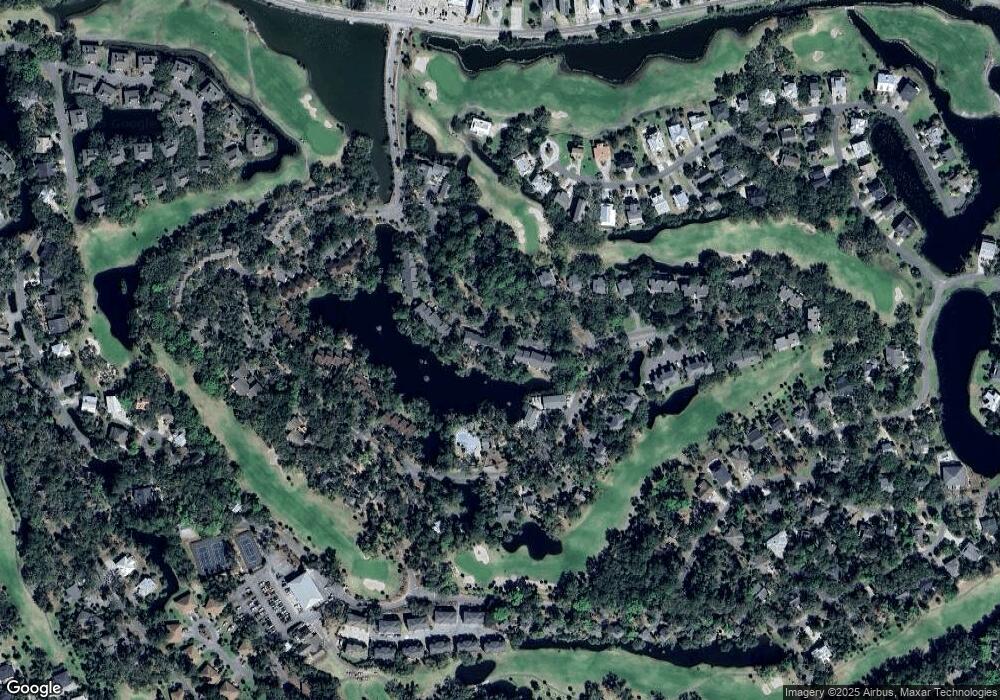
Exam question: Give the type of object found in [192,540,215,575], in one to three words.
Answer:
tennis court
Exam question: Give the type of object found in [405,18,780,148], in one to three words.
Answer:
golf course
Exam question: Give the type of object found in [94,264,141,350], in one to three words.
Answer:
pond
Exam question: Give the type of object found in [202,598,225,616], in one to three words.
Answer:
house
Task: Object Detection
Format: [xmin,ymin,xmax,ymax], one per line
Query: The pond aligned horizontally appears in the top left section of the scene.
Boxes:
[76,108,161,141]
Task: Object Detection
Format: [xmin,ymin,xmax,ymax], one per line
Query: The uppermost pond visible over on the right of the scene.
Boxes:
[427,0,1000,275]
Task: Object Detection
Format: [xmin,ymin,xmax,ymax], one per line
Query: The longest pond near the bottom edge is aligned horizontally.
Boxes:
[521,636,785,667]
